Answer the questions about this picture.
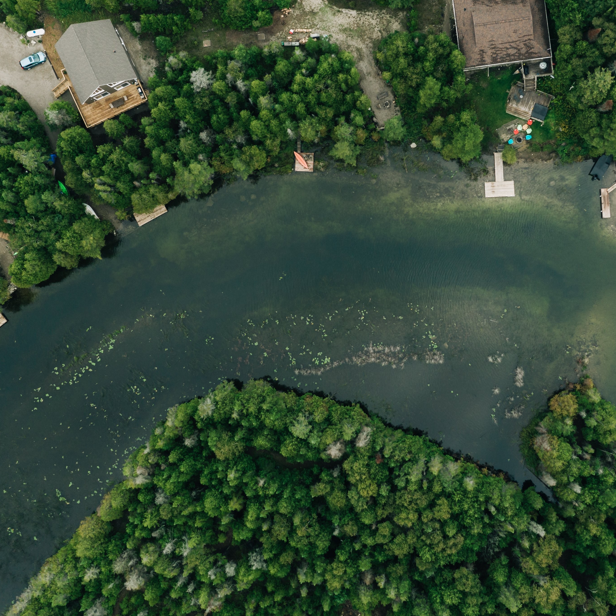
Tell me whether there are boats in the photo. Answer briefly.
Yes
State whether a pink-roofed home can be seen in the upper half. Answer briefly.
No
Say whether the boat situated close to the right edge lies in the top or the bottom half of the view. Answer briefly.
top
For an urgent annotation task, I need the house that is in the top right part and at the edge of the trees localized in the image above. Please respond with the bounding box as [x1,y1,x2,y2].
[453,0,555,123]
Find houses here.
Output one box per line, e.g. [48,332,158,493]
[453,0,555,123]
[49,19,155,128]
